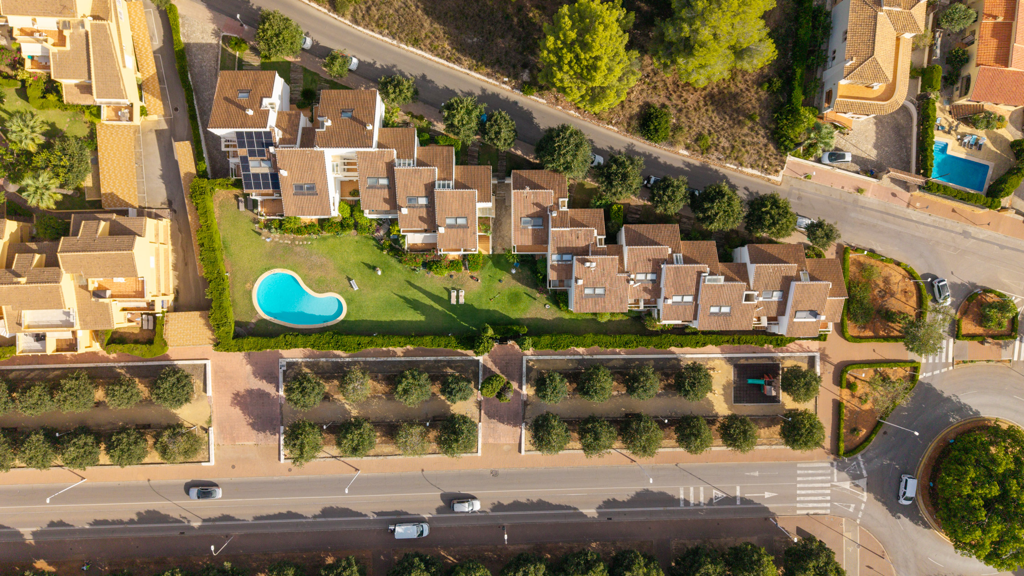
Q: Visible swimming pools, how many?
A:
2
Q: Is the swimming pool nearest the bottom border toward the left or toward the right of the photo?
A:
left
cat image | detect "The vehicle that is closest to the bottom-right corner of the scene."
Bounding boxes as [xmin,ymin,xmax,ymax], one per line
[897,474,918,505]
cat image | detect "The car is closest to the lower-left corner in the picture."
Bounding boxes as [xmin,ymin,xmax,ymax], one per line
[189,484,223,501]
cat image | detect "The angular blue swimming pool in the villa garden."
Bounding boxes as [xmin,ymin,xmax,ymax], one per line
[930,136,994,193]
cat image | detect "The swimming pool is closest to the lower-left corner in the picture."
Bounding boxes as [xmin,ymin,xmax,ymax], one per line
[252,268,347,329]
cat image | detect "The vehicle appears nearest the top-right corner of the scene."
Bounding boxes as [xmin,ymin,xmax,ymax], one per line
[819,149,853,165]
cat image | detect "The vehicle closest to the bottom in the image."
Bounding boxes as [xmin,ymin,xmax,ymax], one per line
[387,521,429,540]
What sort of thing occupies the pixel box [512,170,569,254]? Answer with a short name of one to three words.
house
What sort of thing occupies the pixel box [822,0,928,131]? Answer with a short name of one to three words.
house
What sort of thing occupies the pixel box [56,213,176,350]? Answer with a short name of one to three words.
building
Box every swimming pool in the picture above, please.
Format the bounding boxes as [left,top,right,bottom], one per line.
[930,136,994,193]
[252,268,347,329]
